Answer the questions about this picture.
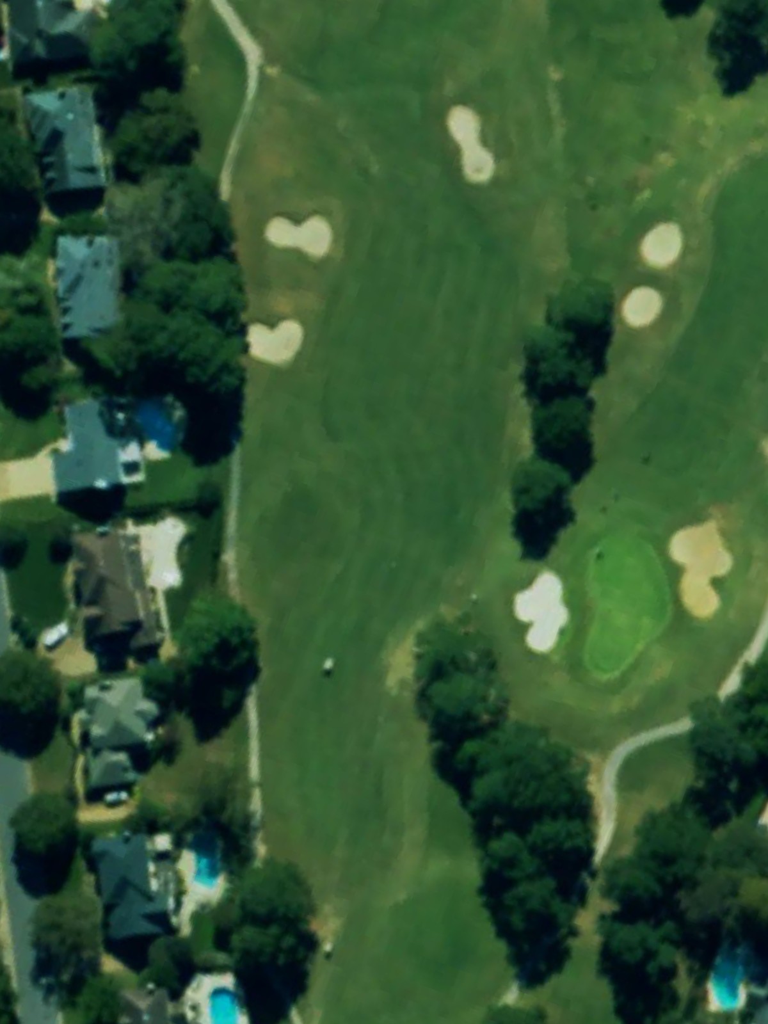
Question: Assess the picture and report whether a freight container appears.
No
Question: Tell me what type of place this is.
golf course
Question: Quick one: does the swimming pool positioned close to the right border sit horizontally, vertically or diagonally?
vertically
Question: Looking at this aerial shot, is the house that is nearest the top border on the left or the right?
left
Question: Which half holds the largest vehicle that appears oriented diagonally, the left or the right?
left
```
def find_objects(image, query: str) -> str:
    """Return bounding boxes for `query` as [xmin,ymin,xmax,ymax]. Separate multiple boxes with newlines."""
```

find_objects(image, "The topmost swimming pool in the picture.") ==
[136,399,178,450]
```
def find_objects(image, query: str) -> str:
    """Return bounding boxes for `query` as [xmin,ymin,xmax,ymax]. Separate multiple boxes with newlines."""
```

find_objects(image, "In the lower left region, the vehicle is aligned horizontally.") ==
[104,792,128,804]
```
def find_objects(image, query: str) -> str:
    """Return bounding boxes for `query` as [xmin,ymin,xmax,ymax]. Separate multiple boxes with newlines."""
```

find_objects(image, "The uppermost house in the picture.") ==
[9,0,95,64]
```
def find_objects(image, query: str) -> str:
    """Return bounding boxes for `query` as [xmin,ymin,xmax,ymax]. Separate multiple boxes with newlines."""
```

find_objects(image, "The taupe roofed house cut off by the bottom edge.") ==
[114,982,170,1024]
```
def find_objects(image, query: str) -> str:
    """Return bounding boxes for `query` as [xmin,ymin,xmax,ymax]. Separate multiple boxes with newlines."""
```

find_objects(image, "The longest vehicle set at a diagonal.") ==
[43,622,68,647]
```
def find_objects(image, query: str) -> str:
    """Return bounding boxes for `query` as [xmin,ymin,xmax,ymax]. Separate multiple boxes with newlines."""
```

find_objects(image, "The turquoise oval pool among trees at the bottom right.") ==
[713,951,741,1010]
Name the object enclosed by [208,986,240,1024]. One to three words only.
swimming pool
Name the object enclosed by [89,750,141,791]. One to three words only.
building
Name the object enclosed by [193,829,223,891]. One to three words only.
swimming pool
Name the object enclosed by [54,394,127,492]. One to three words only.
house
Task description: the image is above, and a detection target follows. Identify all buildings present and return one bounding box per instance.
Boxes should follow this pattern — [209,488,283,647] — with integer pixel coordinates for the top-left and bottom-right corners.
[114,982,170,1024]
[54,236,120,337]
[69,521,166,647]
[154,832,173,852]
[54,394,127,492]
[82,680,161,748]
[22,88,103,191]
[94,830,170,943]
[9,0,95,64]
[89,750,141,791]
